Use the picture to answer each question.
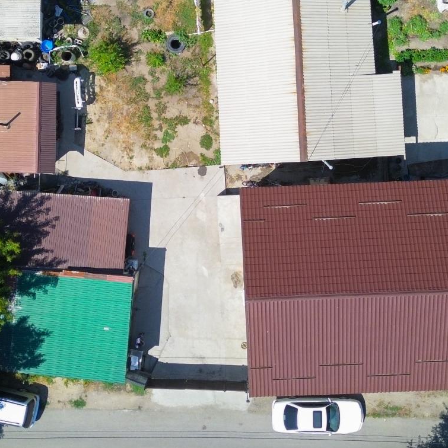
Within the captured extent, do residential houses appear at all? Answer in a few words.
Yes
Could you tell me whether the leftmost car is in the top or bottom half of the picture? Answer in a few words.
bottom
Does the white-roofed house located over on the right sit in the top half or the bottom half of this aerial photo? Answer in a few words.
top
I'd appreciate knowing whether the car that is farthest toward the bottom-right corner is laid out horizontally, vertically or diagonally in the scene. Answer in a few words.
horizontally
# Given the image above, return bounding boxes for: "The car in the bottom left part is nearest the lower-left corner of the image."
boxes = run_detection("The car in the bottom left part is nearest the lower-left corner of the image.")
[0,385,37,429]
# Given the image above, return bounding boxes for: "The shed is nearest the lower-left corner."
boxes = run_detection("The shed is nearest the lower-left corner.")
[0,267,144,383]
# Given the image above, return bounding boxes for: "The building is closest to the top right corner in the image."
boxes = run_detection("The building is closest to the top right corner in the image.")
[214,0,417,169]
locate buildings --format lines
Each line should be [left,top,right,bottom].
[0,0,51,44]
[0,267,144,383]
[0,191,131,269]
[214,0,417,169]
[0,80,61,175]
[238,179,448,397]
